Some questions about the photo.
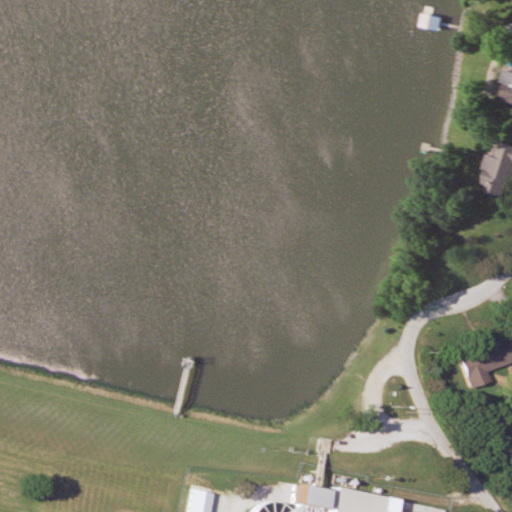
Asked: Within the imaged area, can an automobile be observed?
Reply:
No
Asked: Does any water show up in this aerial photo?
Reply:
Yes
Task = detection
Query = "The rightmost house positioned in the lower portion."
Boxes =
[459,346,512,388]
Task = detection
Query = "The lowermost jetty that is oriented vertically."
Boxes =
[174,358,193,414]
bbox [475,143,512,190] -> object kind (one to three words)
house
